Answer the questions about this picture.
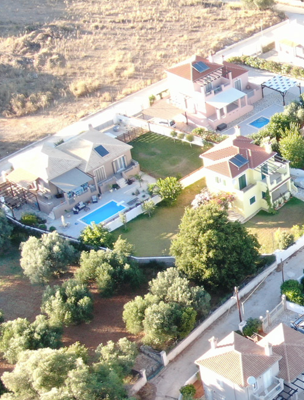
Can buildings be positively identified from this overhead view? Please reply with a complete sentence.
Yes, there is a building in the image.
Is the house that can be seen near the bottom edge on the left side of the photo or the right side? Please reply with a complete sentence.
The house that can be seen near the bottom edge appears in the right half of the scene.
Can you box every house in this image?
[204,126,294,213]
[165,54,264,123]
[6,122,132,217]
[272,19,304,63]
[194,321,304,400]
